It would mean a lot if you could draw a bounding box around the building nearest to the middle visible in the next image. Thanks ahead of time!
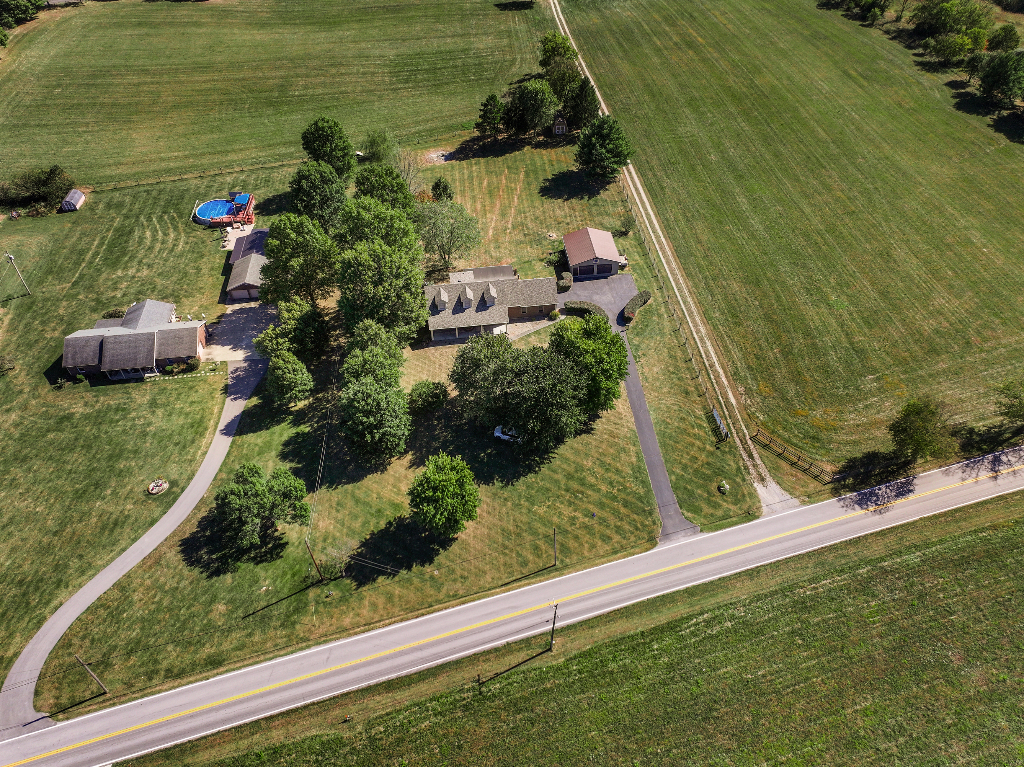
[425,264,559,341]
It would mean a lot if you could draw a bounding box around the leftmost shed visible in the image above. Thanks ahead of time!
[60,188,85,211]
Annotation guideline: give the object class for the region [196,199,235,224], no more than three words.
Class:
swimming pool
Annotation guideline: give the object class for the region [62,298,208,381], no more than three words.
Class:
house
